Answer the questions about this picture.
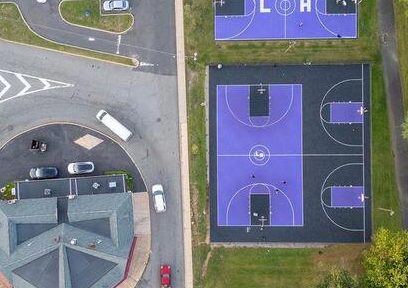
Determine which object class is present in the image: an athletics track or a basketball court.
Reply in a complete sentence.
The image shows a basketball court.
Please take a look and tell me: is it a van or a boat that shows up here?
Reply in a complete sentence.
The one in the frame is a van.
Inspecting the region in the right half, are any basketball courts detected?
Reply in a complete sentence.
Yes, in the right half there is a basketball court.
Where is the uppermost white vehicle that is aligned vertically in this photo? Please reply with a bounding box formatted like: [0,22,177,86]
[153,184,165,212]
